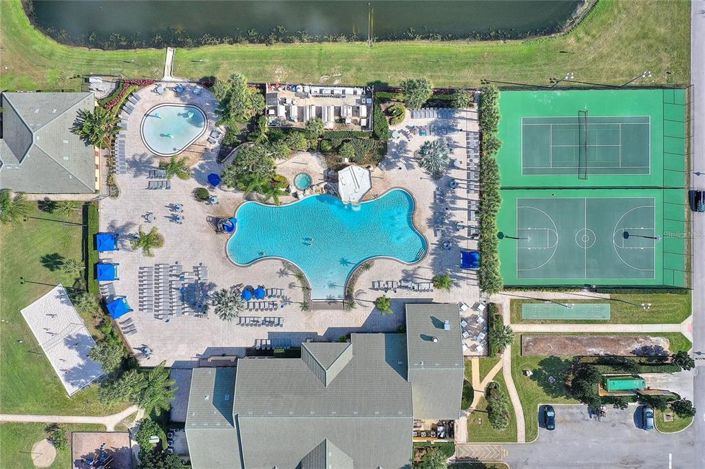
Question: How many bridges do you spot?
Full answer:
The photo contains no bridges.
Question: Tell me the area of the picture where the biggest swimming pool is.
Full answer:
The biggest swimming pool appears toward the center of the photo.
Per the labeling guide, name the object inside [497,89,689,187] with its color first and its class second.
green tennis court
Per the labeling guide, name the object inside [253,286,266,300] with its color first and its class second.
blue umbrella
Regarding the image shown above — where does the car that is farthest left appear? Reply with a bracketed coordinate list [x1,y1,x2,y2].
[545,404,558,430]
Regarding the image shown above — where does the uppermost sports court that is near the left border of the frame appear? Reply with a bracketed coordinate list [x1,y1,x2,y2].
[19,283,106,399]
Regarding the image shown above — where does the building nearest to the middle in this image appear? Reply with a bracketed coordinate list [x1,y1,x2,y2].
[335,163,373,204]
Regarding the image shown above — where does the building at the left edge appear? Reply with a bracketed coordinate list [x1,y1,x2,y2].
[0,92,103,192]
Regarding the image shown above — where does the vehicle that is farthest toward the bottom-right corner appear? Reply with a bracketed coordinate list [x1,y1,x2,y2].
[642,406,655,430]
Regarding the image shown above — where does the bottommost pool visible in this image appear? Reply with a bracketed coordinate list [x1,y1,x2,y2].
[224,186,430,302]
